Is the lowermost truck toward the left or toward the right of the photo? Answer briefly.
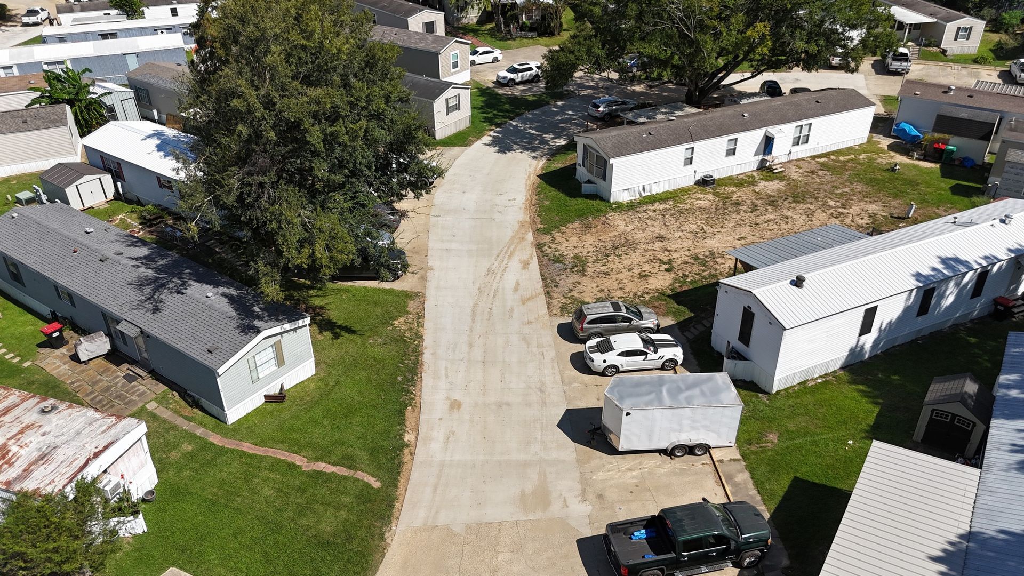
right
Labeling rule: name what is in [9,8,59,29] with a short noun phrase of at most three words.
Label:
truck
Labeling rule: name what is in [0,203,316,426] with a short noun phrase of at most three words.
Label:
house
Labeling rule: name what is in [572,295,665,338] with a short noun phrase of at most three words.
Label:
car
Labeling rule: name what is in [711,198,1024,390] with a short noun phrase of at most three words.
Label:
house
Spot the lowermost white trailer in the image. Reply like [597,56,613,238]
[574,373,745,455]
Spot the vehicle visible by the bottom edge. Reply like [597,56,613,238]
[600,499,780,576]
